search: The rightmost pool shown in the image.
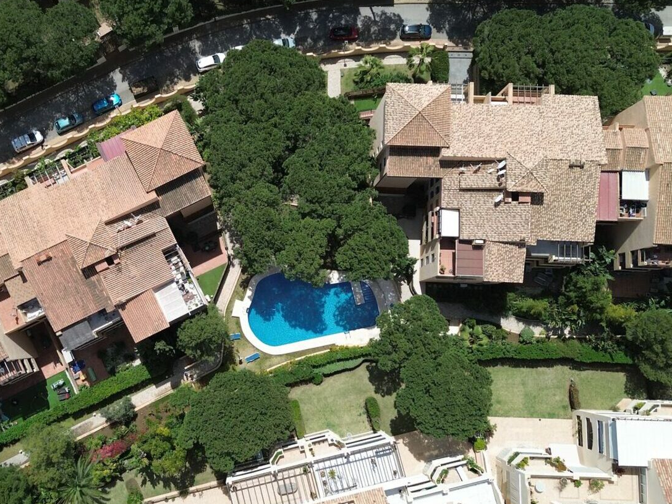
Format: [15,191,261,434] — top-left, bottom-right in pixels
[247,273,379,346]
